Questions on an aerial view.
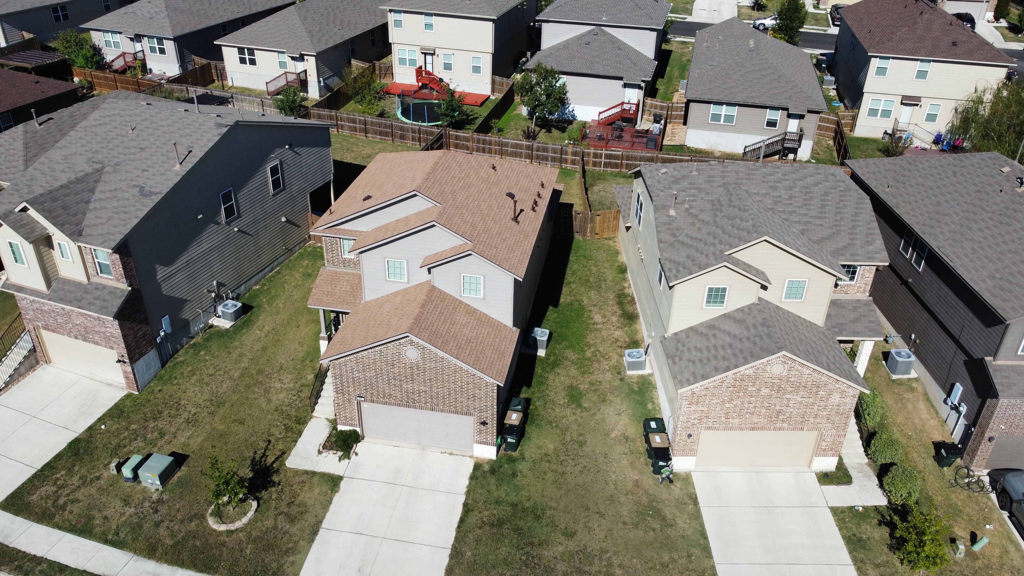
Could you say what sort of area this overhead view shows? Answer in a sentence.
The picture captures a residential area.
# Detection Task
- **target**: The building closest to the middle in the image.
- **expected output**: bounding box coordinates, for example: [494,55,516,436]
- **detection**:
[306,150,567,462]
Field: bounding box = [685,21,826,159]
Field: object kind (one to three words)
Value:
house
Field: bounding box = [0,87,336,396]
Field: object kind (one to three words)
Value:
house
